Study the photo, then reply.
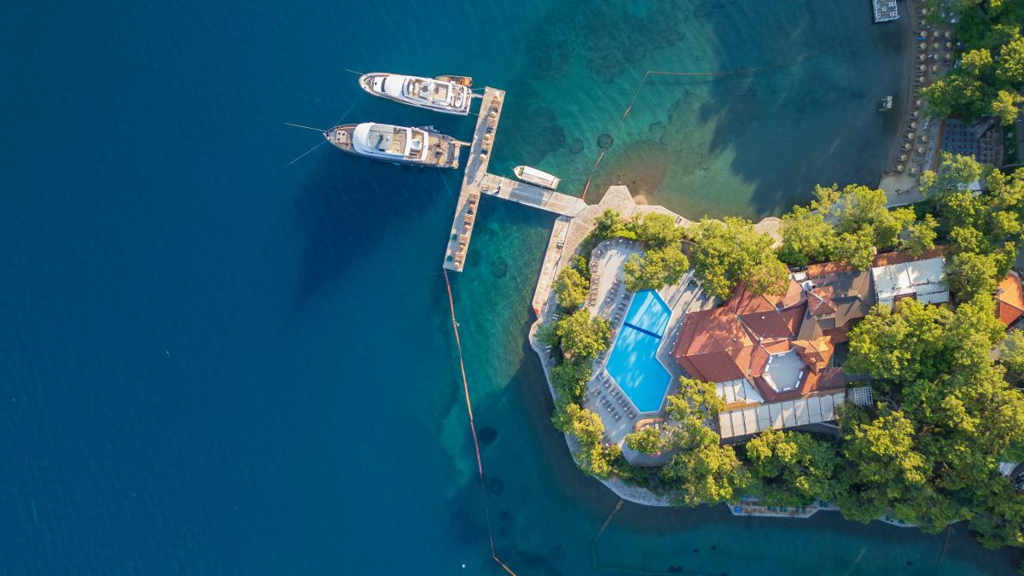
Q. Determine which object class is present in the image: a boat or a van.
boat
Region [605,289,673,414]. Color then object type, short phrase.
blue swimming pool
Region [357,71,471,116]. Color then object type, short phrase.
white boat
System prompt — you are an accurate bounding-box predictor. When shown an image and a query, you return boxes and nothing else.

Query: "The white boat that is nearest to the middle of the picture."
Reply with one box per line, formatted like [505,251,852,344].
[513,165,560,189]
